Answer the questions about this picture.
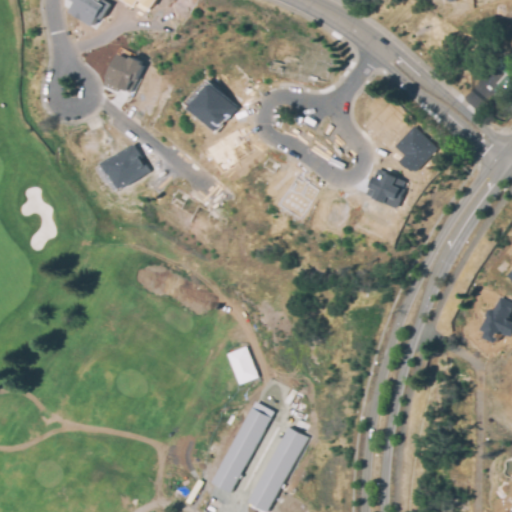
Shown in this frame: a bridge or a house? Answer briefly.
house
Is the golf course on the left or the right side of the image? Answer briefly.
left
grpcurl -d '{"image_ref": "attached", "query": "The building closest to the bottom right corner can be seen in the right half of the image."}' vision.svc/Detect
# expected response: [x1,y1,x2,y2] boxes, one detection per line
[481,296,512,342]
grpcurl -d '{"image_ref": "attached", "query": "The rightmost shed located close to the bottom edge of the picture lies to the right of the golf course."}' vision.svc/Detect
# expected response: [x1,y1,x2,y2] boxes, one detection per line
[249,428,311,512]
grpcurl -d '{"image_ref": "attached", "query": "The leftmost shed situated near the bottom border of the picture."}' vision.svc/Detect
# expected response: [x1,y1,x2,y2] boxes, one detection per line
[214,400,276,492]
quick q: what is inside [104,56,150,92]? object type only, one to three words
house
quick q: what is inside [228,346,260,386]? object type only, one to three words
barn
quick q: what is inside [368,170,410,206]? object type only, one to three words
house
